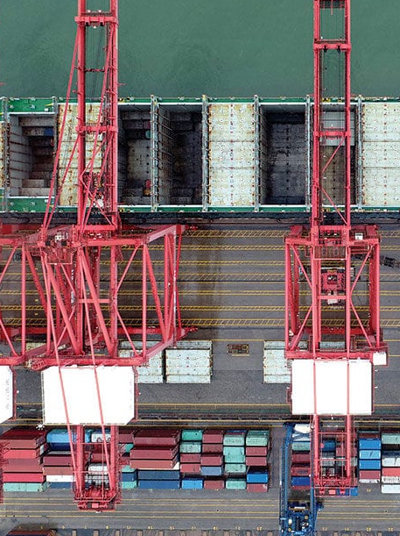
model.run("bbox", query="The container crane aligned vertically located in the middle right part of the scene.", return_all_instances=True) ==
[270,0,393,495]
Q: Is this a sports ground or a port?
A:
port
